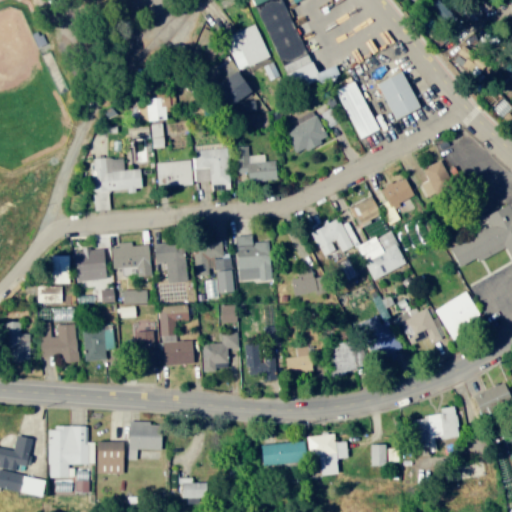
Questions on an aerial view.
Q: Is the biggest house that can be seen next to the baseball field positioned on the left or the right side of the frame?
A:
left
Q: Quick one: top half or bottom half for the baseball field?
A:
top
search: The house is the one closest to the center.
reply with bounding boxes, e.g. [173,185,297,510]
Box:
[237,235,272,284]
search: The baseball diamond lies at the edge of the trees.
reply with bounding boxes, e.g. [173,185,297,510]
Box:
[0,2,72,170]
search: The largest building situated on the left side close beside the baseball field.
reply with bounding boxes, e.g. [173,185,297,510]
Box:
[92,158,143,212]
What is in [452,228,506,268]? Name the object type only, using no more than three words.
building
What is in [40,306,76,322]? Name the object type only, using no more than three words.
greenhouse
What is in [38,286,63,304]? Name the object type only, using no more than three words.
house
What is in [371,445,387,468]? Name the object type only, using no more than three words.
barn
